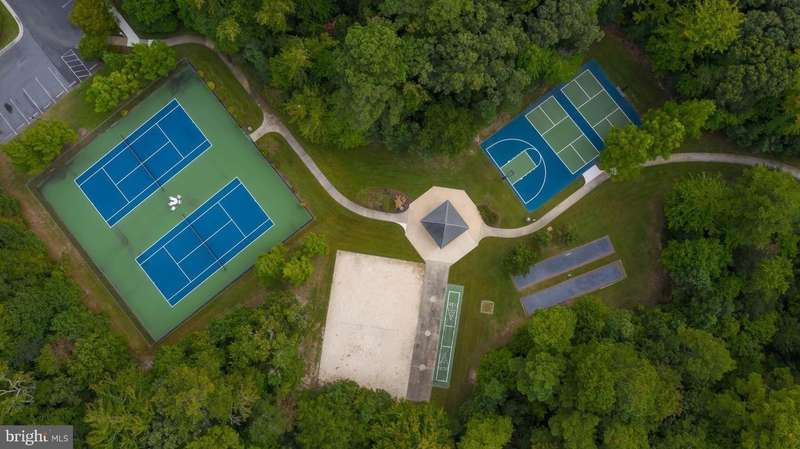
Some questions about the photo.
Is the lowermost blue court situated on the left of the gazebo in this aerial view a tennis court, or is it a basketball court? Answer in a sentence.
I'd say the lowermost blue court situated on the left of the gazebo is a tennis court.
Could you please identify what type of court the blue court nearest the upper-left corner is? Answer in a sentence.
Specifically, the blue court nearest the upper-left corner is a tennis court.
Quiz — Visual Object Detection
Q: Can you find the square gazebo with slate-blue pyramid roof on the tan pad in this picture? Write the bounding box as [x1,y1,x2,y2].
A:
[420,200,470,249]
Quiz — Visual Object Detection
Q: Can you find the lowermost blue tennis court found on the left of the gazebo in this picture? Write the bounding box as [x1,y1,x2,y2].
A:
[137,178,273,306]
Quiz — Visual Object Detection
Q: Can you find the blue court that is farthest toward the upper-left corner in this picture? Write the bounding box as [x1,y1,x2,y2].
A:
[75,98,212,227]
